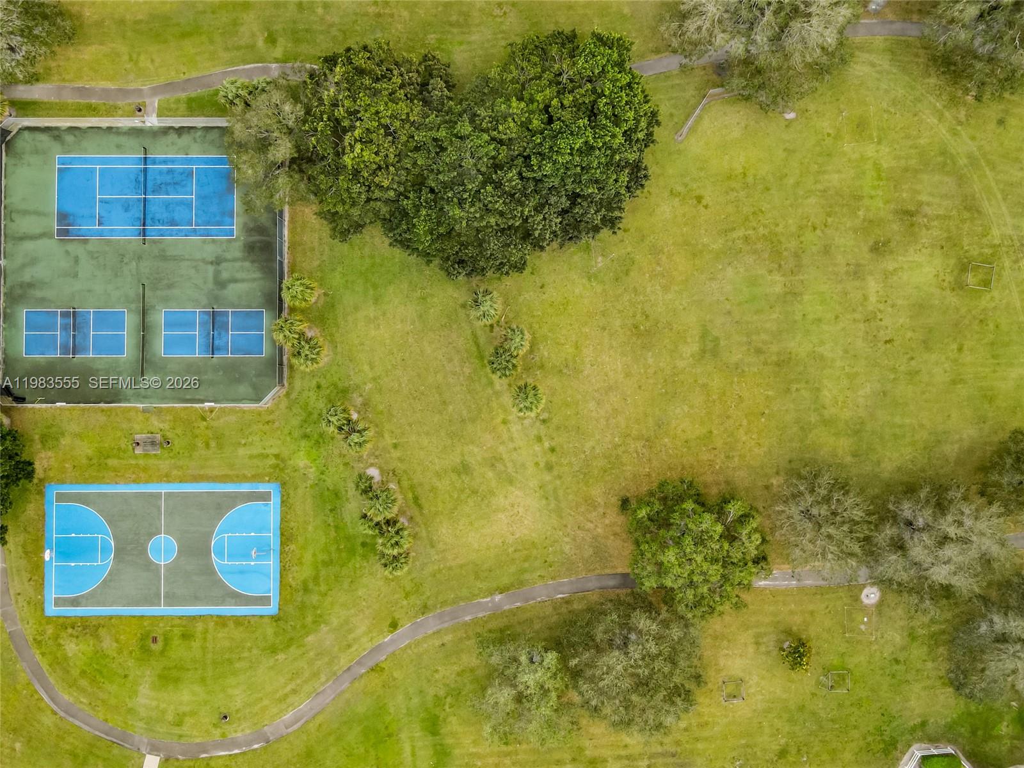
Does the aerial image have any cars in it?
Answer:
No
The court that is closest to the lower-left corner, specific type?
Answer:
basketball court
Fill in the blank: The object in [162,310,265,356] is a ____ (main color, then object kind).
blue sports court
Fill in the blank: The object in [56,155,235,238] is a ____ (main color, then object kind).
blue tennis court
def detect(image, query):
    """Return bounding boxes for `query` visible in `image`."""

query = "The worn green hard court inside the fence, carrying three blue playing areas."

[1,123,288,408]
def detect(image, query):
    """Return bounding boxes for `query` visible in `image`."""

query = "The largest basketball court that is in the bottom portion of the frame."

[45,484,279,615]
